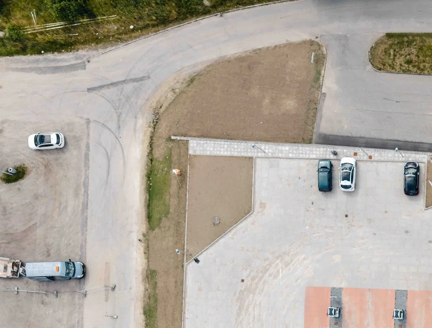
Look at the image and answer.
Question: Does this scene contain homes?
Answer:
No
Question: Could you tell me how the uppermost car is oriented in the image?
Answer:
from left to right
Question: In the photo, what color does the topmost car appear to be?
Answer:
white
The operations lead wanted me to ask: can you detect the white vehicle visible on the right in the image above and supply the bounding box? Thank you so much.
[337,156,356,192]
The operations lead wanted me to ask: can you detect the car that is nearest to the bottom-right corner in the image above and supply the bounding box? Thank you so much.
[402,161,421,196]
